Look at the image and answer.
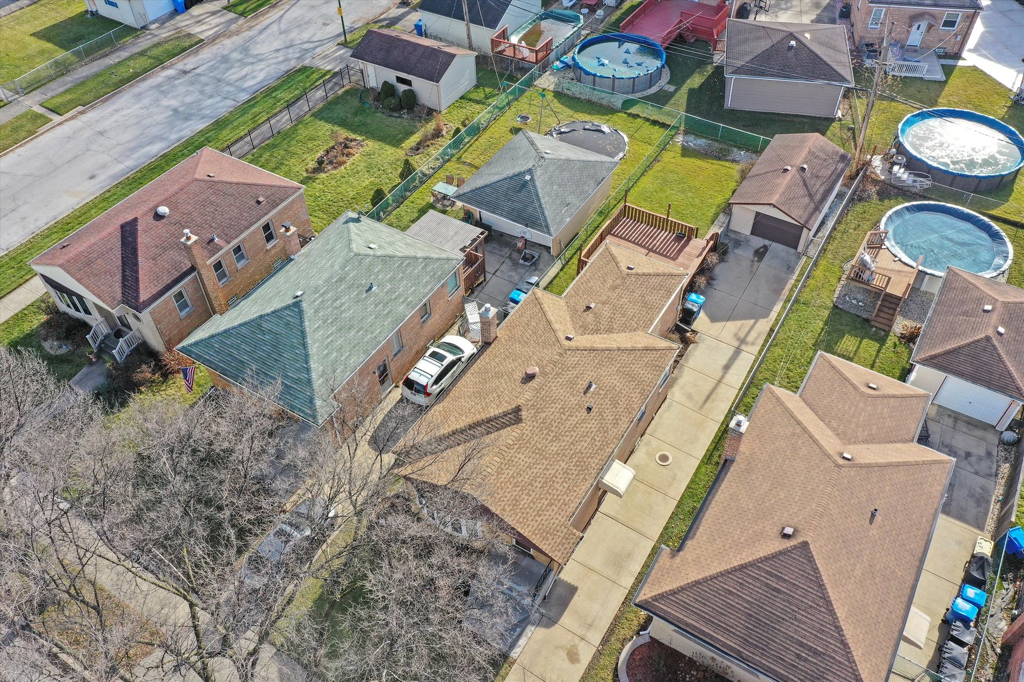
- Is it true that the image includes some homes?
Yes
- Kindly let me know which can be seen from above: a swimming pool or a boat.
swimming pool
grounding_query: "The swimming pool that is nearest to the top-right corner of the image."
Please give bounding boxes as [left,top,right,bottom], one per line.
[892,108,1024,193]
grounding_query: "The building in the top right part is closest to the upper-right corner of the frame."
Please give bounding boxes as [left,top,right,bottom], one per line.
[851,0,985,85]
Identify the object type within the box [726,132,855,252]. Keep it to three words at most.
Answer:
building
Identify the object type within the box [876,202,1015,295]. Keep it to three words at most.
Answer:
swimming pool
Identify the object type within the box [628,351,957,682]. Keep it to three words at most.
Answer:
house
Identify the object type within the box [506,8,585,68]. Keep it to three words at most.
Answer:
swimming pool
